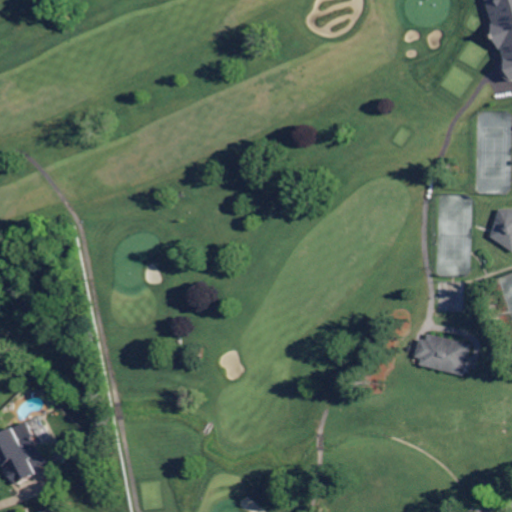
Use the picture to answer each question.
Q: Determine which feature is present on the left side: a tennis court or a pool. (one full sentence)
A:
It is a pool that can be seen on the left side.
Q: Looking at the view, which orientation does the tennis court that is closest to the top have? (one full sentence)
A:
From this overhead view, the tennis court that is closest to the top appears to run from top to bottom.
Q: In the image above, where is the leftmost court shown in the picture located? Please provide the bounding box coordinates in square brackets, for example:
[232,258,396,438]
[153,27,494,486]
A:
[438,196,472,275]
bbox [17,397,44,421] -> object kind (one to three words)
swimming pool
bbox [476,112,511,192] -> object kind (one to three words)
tennis court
